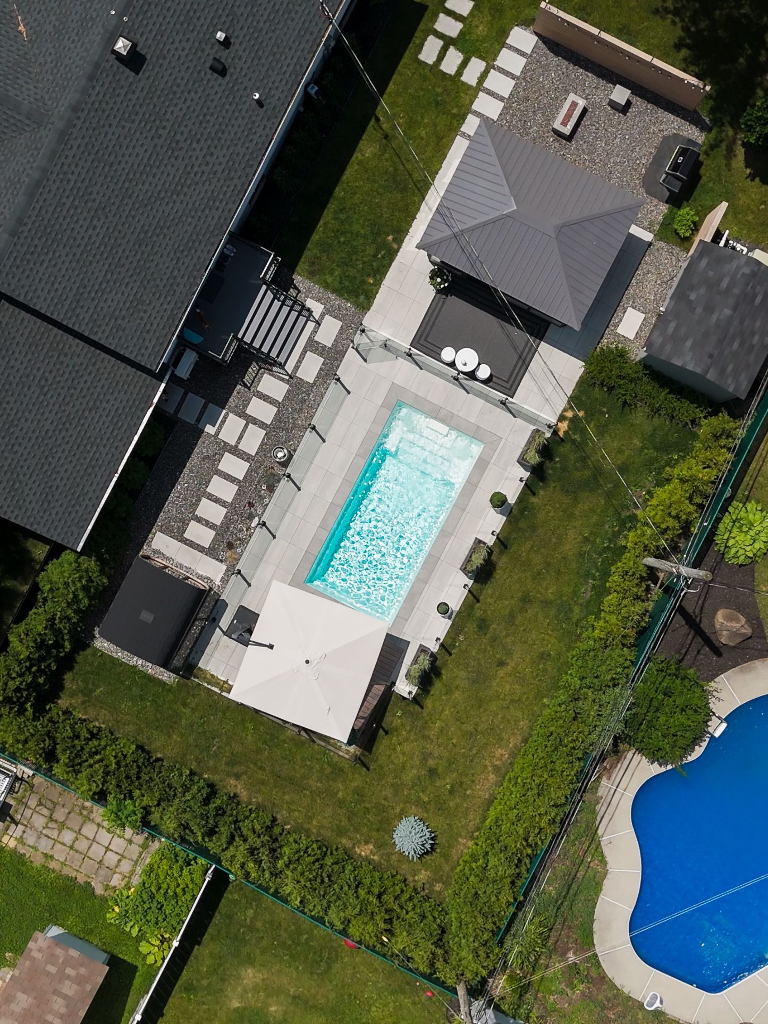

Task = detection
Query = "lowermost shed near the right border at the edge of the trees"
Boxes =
[636,240,768,403]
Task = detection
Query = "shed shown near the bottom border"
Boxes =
[4,915,119,1024]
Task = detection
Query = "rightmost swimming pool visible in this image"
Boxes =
[633,696,768,993]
